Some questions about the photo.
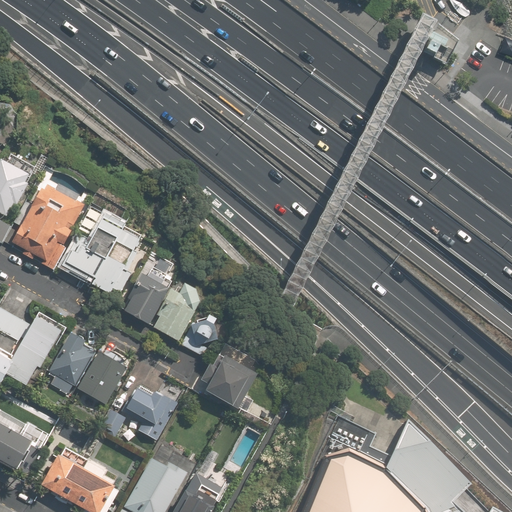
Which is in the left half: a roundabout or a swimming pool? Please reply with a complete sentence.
Looking in the left half, you will find a swimming pool.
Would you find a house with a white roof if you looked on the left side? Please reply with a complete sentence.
Yes, there is a house with a white roof on the left side.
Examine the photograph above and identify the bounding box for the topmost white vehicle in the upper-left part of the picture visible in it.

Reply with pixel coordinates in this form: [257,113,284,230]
[62,20,80,34]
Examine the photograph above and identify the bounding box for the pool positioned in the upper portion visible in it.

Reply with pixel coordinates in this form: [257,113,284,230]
[50,170,86,196]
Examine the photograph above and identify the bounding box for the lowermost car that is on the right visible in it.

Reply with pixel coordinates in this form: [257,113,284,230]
[449,348,464,361]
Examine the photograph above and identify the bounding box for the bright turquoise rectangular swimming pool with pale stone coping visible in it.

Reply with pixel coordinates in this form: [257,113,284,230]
[224,426,262,470]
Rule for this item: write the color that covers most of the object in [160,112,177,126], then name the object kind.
blue vehicle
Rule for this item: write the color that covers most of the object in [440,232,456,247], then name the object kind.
gray vehicle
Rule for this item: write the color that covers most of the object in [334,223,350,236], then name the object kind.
gray vehicle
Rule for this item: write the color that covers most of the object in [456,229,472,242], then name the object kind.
white vehicle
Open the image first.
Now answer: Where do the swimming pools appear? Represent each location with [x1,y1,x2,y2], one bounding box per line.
[224,426,262,470]
[50,170,86,196]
